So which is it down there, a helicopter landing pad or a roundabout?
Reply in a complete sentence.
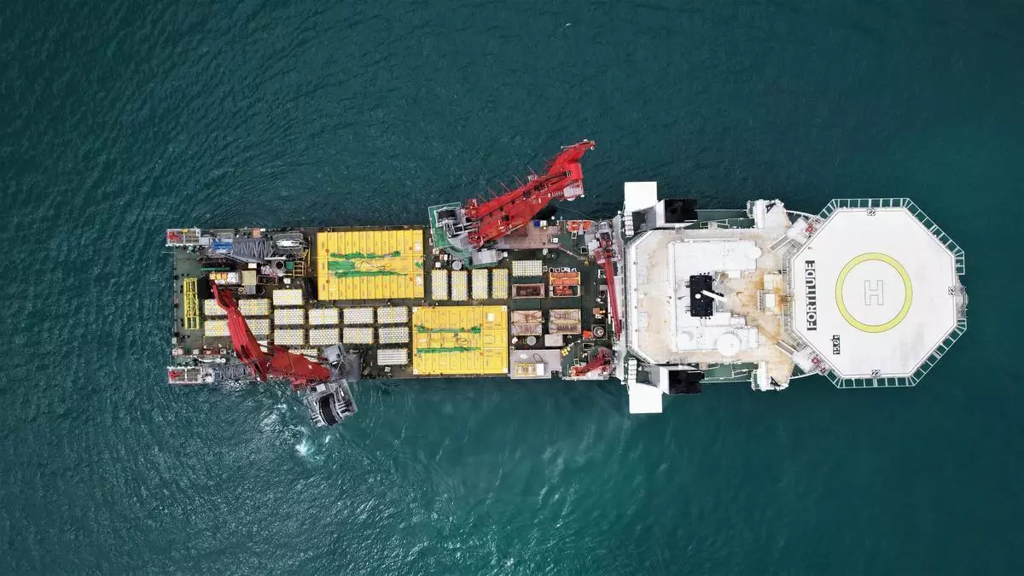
The image shows a helicopter landing pad.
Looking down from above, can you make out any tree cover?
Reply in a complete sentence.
No, there is no tree cover in the image.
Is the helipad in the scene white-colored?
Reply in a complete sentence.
Yes, the helipad is indeed white.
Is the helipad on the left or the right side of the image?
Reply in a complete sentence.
The helipad is on the right side of the image.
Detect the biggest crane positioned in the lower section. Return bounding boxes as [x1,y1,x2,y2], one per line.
[208,279,362,427]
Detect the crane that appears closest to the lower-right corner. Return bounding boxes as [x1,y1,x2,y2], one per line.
[569,348,612,378]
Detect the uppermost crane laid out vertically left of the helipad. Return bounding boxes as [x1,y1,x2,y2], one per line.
[586,220,621,341]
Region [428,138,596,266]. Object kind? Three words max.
crane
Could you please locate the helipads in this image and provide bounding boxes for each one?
[769,199,970,388]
